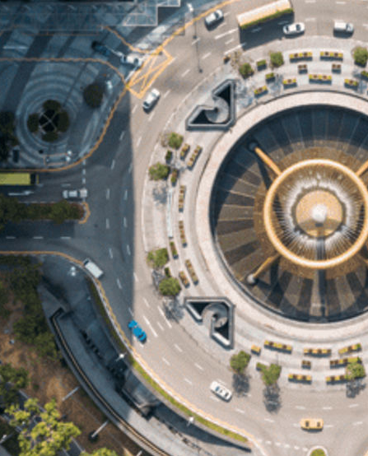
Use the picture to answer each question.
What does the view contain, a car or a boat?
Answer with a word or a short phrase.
car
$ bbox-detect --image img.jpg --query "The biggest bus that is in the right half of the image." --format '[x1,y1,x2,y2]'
[232,1,292,32]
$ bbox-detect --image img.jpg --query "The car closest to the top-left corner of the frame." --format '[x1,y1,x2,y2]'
[91,41,113,57]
